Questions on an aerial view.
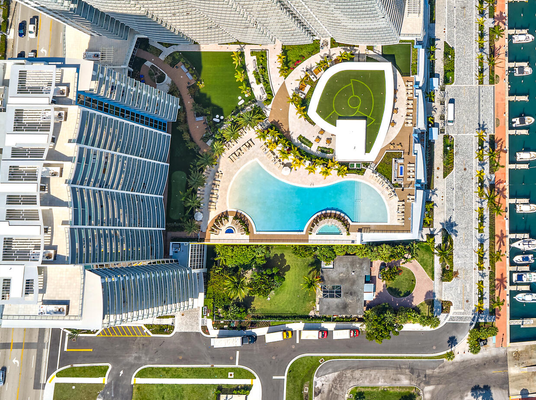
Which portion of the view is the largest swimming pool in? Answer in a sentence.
The largest swimming pool is in the center part of the image.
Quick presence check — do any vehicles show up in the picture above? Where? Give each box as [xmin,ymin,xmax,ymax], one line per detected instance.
[17,49,25,58]
[0,367,6,384]
[207,335,256,347]
[18,22,26,37]
[378,262,386,279]
[262,331,292,343]
[28,48,38,59]
[331,329,359,340]
[298,329,327,340]
[28,19,38,37]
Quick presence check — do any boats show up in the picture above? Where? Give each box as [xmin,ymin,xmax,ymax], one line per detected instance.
[511,117,534,126]
[513,152,536,161]
[513,273,536,283]
[513,255,536,264]
[511,240,536,251]
[511,34,534,43]
[510,66,532,75]
[514,293,536,303]
[514,203,536,213]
